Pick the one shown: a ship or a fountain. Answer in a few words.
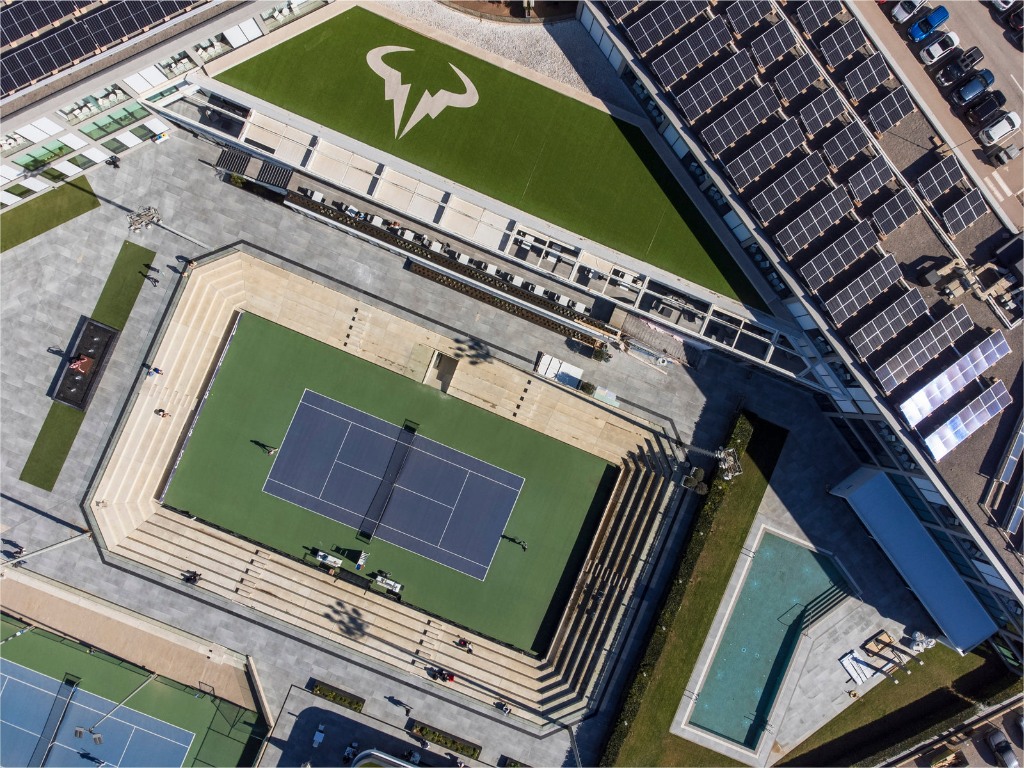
fountain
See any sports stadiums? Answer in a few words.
Yes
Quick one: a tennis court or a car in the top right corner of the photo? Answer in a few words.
car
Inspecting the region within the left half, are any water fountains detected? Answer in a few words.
Yes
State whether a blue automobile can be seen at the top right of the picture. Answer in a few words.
Yes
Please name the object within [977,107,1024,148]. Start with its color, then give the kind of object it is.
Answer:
white car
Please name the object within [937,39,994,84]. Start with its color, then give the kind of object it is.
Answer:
black car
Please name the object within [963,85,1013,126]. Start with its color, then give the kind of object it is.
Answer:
black car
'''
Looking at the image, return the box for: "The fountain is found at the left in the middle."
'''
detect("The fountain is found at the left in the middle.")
[51,315,126,411]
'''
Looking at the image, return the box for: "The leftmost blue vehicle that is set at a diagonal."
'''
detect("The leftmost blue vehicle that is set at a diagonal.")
[905,0,960,42]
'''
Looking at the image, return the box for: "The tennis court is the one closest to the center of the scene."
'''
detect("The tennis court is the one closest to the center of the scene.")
[173,316,613,647]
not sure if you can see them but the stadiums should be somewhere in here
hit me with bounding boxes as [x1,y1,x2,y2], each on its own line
[93,250,680,724]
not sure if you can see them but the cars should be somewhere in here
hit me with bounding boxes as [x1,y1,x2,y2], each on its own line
[937,39,994,84]
[963,85,1013,126]
[951,66,1000,106]
[1013,715,1024,741]
[905,0,960,42]
[919,26,966,65]
[982,729,1024,768]
[977,107,1024,148]
[1003,3,1024,35]
[889,0,937,27]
